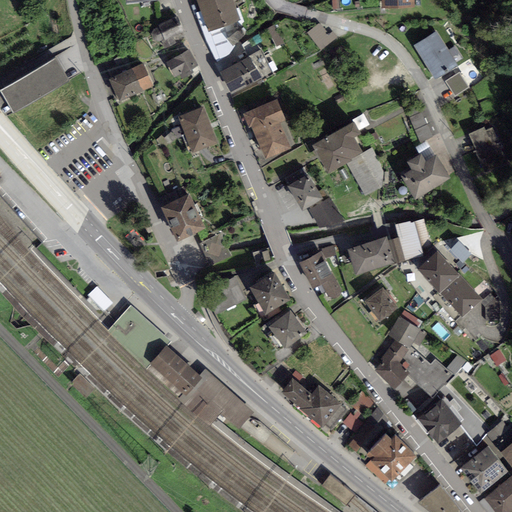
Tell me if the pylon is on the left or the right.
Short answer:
left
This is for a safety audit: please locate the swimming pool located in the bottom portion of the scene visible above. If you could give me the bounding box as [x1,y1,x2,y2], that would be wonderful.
[432,322,452,341]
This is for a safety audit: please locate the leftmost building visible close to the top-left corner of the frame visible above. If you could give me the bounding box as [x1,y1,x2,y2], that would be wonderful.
[1,58,68,111]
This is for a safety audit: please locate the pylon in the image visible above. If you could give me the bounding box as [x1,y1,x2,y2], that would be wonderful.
[140,455,160,475]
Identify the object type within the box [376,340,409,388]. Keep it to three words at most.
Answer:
house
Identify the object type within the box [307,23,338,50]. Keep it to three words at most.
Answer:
shed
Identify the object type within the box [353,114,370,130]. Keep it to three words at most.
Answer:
gazebo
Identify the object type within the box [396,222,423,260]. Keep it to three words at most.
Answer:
building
